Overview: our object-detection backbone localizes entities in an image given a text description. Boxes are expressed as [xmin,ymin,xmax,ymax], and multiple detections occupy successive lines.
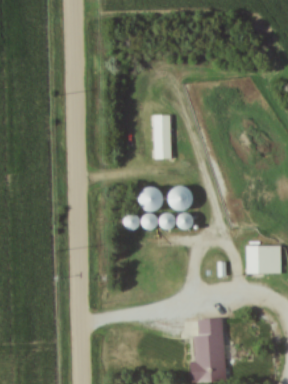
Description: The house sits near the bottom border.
[191,318,227,383]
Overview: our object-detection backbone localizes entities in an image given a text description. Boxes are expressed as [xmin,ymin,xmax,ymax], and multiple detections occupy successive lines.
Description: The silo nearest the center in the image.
[138,186,164,212]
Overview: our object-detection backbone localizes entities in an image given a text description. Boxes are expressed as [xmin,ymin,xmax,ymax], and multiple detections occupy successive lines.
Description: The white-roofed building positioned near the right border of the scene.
[247,240,282,274]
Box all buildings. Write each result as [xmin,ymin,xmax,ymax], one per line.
[152,114,172,158]
[191,318,227,383]
[247,240,282,274]
[216,260,227,278]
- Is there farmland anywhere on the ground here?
Yes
